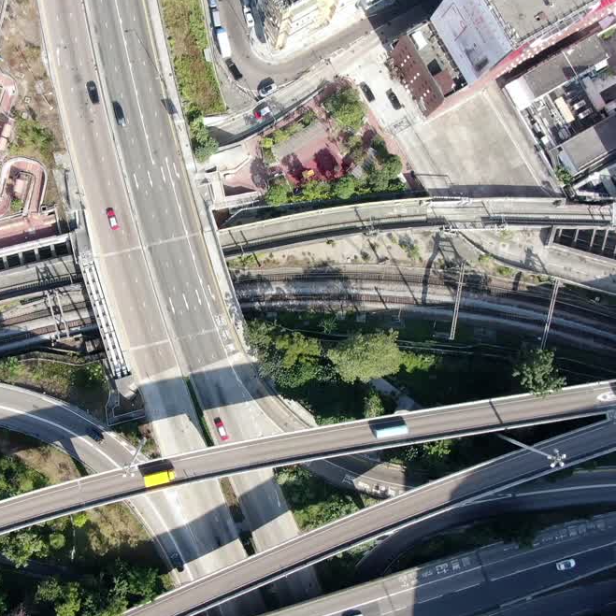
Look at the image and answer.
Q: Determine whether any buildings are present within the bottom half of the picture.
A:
No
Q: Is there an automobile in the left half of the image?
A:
Yes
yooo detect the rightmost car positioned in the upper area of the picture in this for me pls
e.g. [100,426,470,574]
[386,86,403,110]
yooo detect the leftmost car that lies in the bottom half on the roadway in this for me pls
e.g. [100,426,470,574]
[84,425,106,444]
